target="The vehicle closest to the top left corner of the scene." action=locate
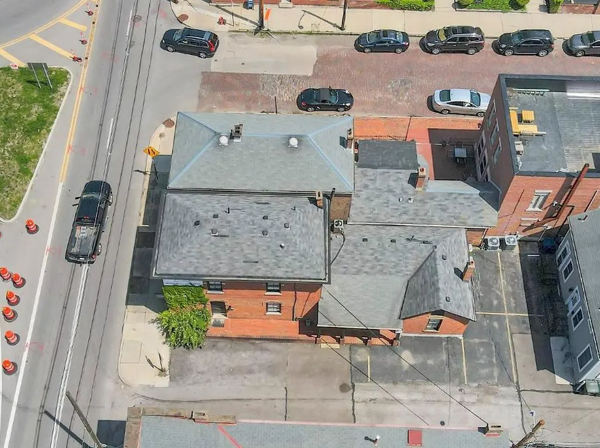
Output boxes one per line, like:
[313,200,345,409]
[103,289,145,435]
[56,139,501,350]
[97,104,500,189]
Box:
[159,26,221,59]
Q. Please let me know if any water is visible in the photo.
No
